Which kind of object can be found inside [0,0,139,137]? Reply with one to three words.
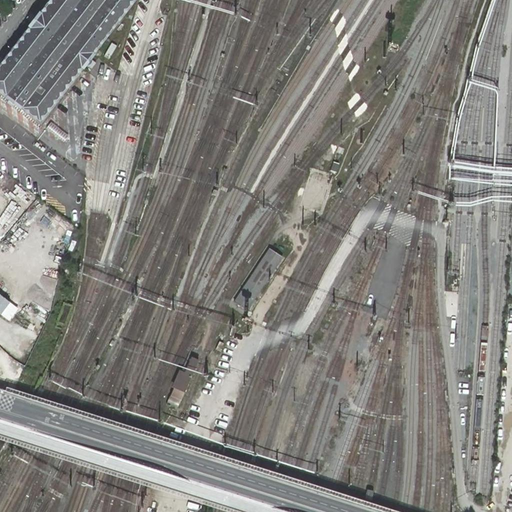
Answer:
building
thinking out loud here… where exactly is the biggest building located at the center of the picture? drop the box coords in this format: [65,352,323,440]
[233,246,282,308]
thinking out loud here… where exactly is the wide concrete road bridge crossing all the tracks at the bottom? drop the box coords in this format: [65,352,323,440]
[0,386,406,512]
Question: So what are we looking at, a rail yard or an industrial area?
rail yard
